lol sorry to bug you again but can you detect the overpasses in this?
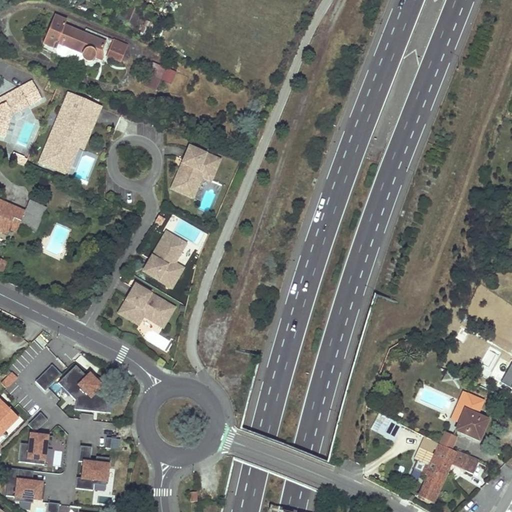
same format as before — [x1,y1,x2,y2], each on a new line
[232,426,338,490]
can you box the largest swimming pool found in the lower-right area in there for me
[415,384,458,422]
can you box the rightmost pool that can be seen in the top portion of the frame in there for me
[193,181,222,210]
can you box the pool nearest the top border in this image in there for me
[6,109,40,158]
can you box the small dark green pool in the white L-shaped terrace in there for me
[92,468,115,506]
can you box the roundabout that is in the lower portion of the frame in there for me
[126,355,237,473]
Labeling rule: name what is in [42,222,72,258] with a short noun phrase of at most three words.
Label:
swimming pool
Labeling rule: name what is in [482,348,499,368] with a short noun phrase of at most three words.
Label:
swimming pool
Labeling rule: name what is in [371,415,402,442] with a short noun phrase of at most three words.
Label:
building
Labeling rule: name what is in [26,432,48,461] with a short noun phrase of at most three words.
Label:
house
